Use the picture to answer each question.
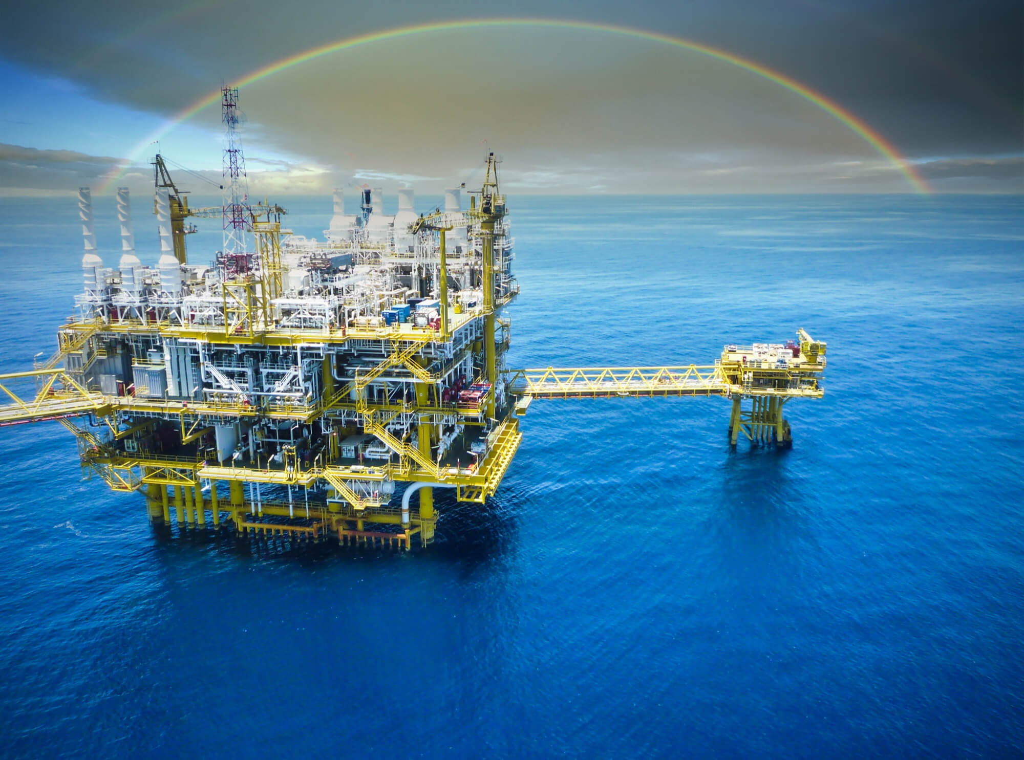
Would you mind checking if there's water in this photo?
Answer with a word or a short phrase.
Yes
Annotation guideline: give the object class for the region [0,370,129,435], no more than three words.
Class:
bridge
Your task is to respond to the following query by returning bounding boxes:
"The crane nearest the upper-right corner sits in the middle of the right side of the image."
[792,329,833,362]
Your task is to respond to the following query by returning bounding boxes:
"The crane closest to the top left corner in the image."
[153,141,290,274]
